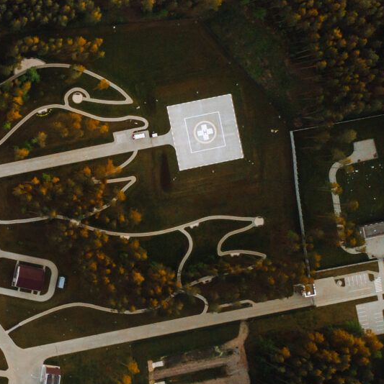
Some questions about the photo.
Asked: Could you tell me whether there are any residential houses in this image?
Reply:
Yes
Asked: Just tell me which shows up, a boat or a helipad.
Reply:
helipad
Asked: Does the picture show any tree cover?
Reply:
Yes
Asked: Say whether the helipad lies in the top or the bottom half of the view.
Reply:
top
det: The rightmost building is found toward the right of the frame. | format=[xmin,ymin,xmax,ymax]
[358,222,384,237]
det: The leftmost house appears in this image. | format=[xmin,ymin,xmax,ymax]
[12,264,44,292]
